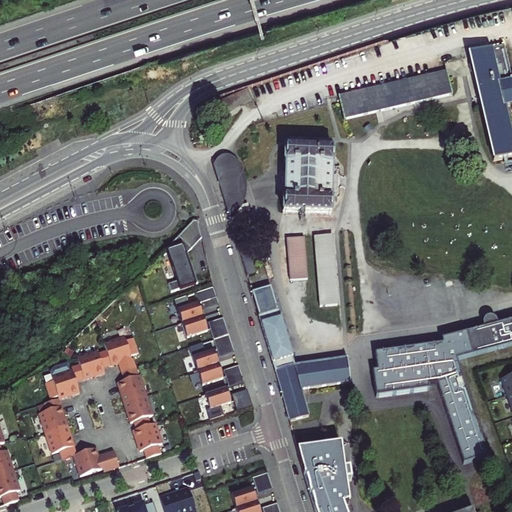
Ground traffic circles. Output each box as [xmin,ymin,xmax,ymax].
[132,189,174,230]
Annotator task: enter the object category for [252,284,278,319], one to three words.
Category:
building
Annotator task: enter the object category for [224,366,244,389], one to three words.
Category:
building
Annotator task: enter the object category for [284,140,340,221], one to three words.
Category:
house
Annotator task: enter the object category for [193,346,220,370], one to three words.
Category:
house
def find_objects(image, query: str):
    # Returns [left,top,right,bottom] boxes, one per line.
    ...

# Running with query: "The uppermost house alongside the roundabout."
[178,220,202,254]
